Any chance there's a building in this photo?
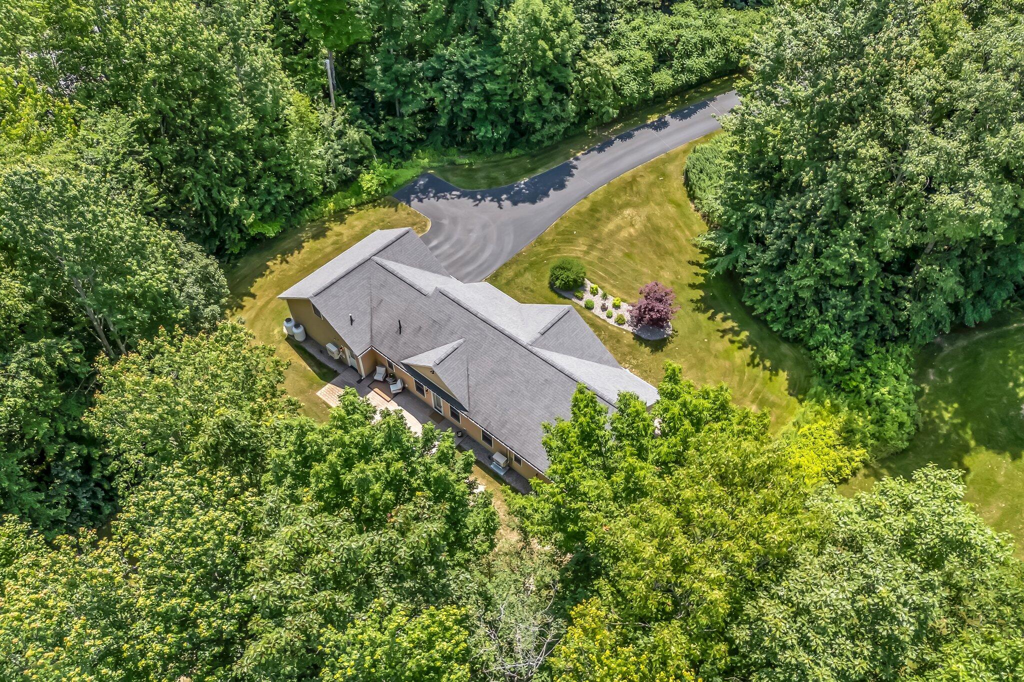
Yes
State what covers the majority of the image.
trees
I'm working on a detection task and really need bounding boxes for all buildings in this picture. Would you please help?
[279,227,661,493]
